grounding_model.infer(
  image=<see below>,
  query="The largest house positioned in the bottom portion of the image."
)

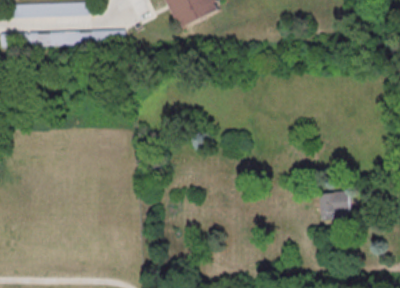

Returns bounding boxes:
[320,191,352,224]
